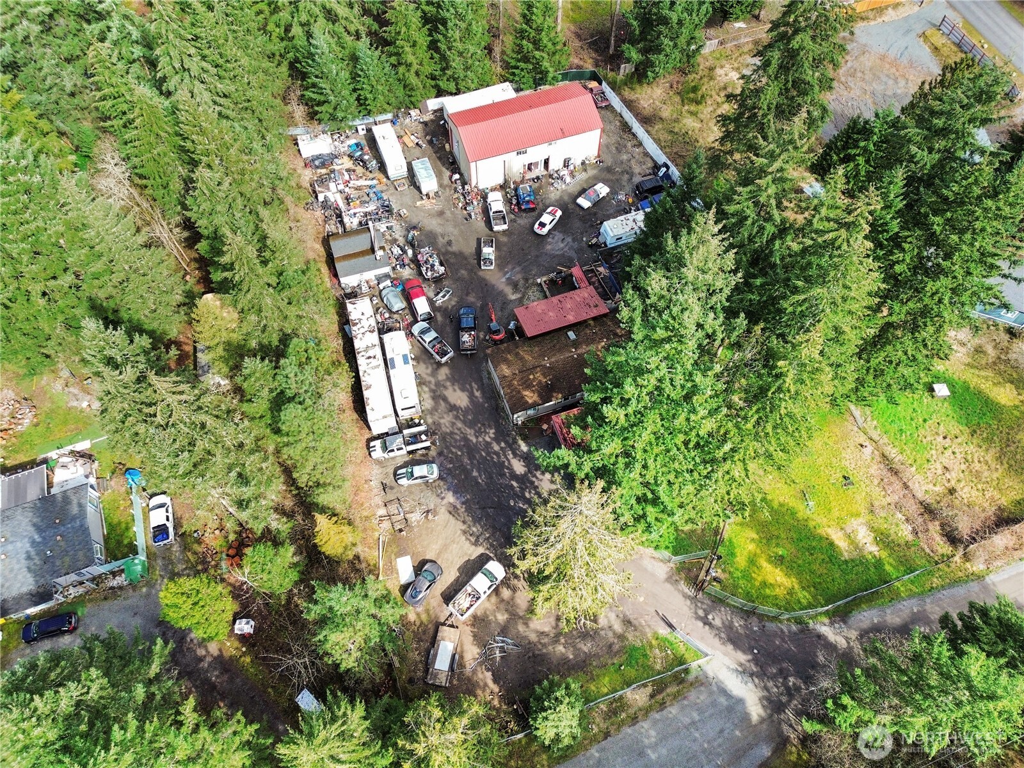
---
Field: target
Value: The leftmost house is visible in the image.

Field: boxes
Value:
[0,476,108,639]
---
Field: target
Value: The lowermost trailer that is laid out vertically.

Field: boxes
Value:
[425,615,461,687]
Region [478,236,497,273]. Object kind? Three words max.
vehicle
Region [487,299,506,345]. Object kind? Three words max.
work vehicle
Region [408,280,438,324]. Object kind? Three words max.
truck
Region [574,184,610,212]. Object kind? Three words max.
car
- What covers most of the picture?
trees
